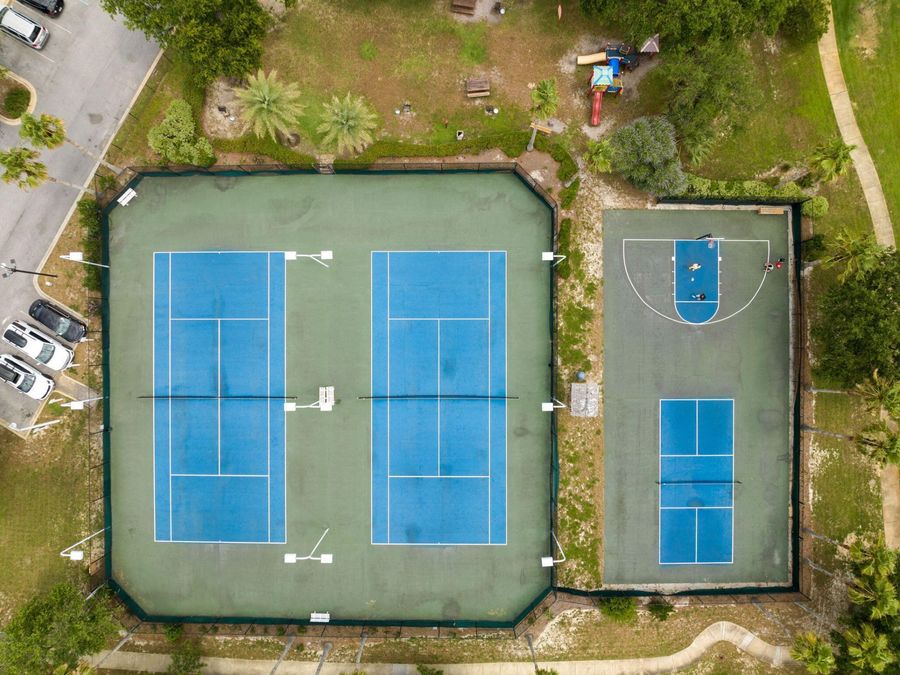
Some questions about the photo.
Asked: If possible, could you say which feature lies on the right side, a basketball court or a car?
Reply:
basketball court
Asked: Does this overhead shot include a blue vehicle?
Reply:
No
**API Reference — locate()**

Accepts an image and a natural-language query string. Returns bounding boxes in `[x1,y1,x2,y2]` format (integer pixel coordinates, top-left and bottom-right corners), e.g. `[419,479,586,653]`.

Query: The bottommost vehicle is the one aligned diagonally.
[0,351,55,396]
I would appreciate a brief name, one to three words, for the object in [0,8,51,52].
car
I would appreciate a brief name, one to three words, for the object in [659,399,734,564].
sports court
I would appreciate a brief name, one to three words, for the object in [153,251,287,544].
tennis court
